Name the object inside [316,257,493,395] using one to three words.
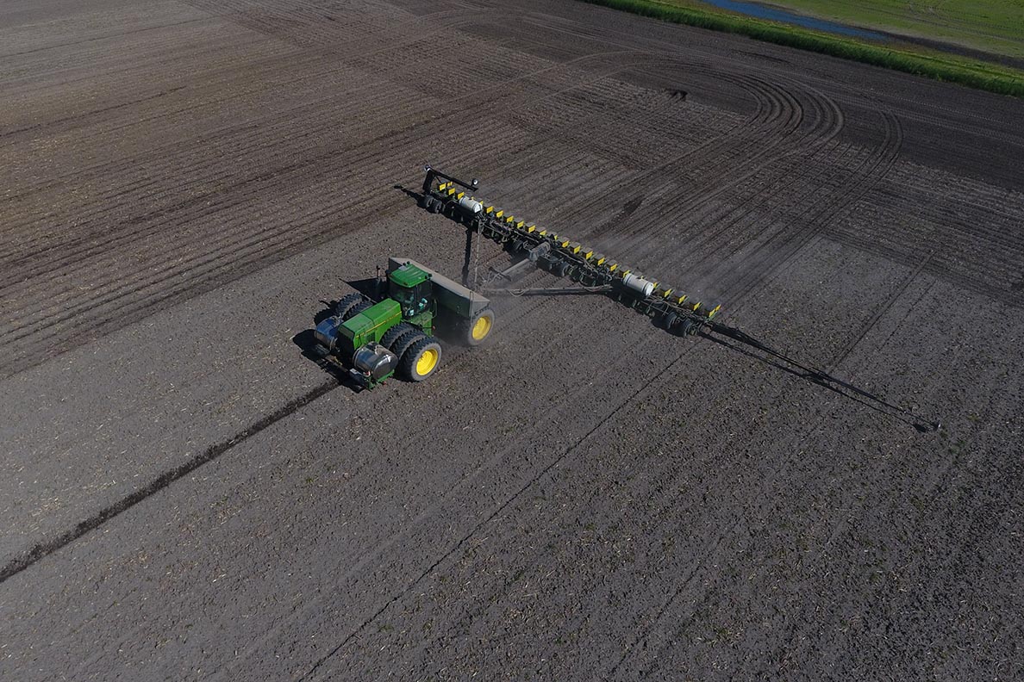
work vehicle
